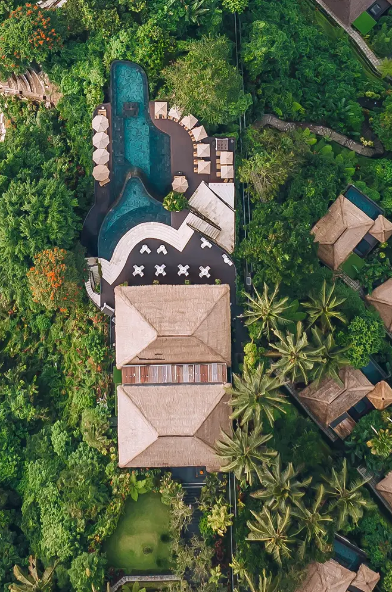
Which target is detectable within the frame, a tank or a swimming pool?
swimming pool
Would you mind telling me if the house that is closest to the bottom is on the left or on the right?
right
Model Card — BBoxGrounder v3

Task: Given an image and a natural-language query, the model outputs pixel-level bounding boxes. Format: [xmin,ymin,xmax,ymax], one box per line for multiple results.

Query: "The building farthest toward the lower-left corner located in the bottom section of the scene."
[116,381,233,469]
